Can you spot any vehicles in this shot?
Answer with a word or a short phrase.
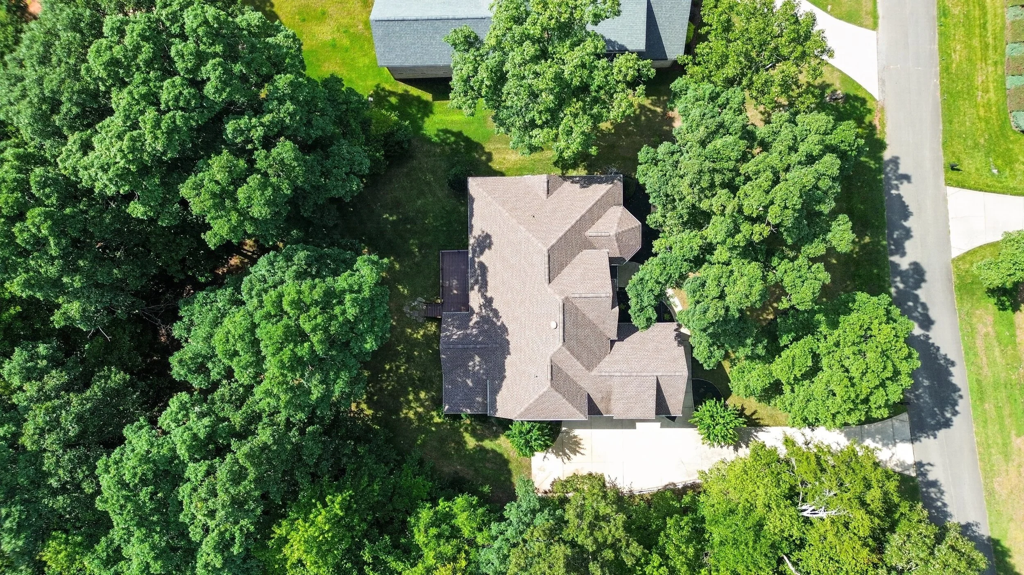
No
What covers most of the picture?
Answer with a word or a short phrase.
trees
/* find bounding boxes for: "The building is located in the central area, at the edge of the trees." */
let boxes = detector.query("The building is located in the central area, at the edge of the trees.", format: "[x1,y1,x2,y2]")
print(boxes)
[441,173,688,421]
